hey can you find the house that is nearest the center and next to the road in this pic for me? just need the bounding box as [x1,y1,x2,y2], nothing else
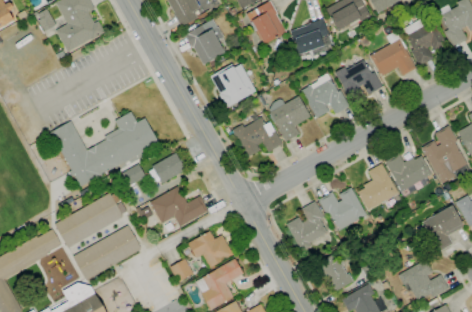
[234,116,282,160]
